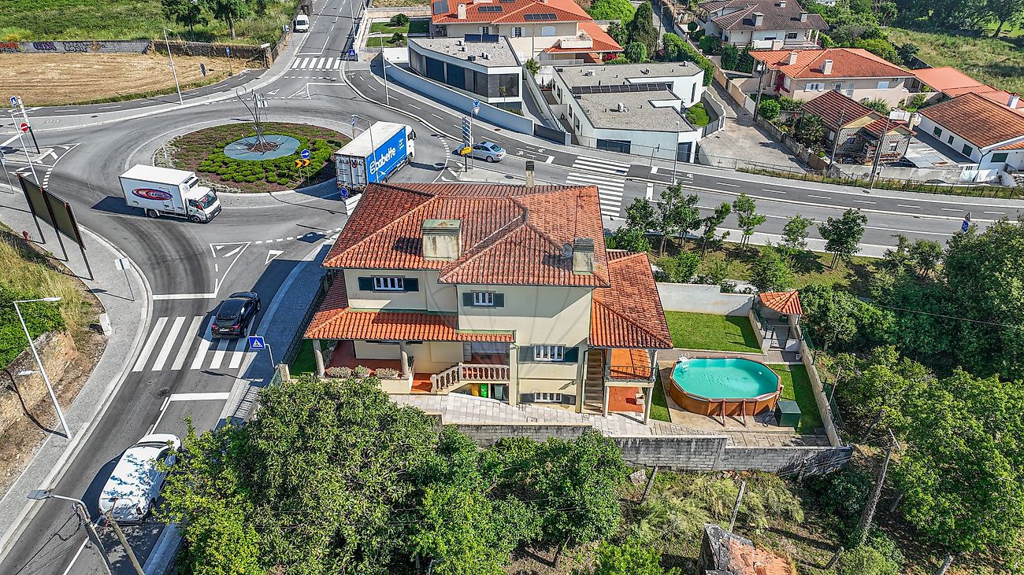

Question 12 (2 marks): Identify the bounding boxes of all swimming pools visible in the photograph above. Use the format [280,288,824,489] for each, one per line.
[668,356,782,423]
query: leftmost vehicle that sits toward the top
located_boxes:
[117,159,220,222]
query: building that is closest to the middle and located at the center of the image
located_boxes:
[303,162,671,418]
